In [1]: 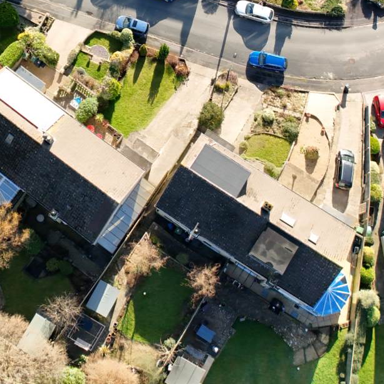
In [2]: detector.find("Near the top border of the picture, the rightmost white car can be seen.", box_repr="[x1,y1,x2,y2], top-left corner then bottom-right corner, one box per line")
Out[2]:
[233,1,276,26]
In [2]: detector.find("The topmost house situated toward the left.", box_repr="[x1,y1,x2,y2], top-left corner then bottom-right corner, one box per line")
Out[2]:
[0,61,155,261]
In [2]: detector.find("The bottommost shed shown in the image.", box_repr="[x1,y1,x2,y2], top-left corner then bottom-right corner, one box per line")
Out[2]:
[155,338,223,384]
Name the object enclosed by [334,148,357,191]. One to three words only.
car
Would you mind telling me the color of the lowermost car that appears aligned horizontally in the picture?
blue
